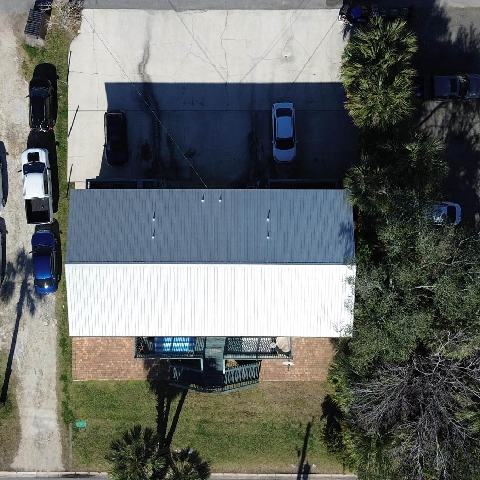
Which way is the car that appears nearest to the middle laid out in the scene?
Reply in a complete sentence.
I'd say the car that appears nearest to the middle is aligned up and down in the picture.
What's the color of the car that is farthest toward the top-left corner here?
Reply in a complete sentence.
The color of the car that is farthest toward the top-left corner is black.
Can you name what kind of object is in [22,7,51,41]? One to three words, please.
shed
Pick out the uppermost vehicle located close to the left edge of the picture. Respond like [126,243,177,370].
[23,76,56,133]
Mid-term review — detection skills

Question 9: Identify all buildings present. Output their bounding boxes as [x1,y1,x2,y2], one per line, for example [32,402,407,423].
[22,7,51,41]
[64,189,356,339]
